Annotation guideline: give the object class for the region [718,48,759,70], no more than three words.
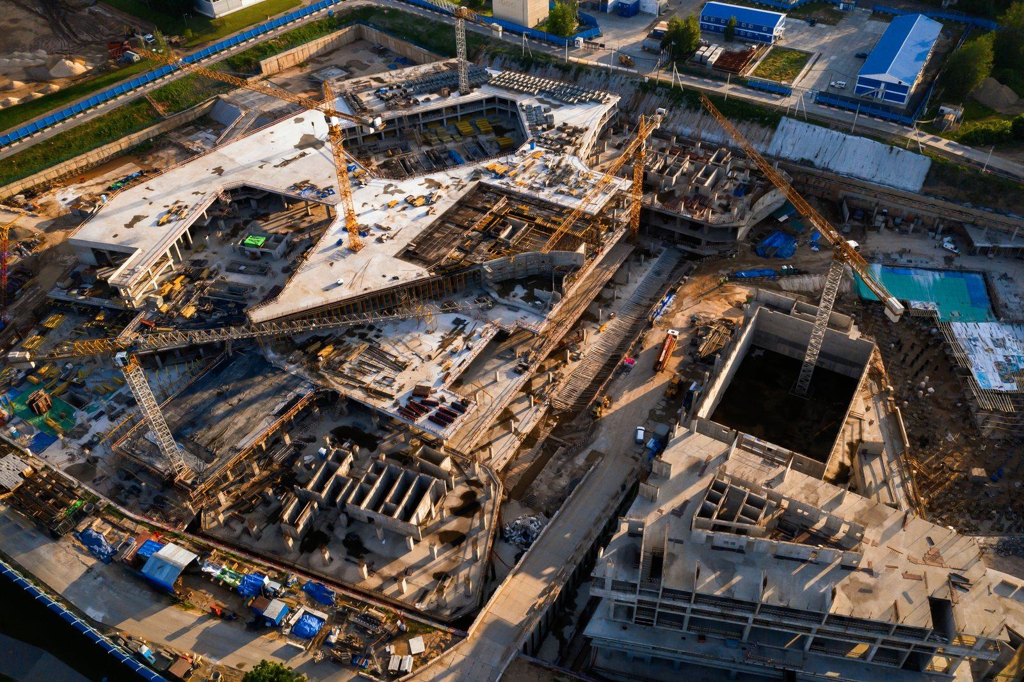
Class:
building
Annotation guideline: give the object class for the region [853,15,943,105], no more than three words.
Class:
building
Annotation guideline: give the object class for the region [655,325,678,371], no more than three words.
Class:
truck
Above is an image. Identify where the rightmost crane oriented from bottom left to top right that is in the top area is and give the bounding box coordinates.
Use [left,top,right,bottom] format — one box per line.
[543,117,661,251]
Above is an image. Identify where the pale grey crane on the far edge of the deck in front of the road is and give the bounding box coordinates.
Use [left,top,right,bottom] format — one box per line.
[415,0,493,97]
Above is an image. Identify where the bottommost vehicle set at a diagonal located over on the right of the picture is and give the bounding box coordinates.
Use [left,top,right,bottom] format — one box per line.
[643,422,668,452]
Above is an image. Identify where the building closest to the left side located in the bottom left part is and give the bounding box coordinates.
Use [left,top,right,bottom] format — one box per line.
[0,458,87,536]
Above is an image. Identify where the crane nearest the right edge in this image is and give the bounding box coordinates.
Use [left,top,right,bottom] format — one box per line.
[699,94,899,394]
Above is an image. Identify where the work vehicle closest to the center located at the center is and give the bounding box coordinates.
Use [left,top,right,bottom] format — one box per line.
[591,391,613,413]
